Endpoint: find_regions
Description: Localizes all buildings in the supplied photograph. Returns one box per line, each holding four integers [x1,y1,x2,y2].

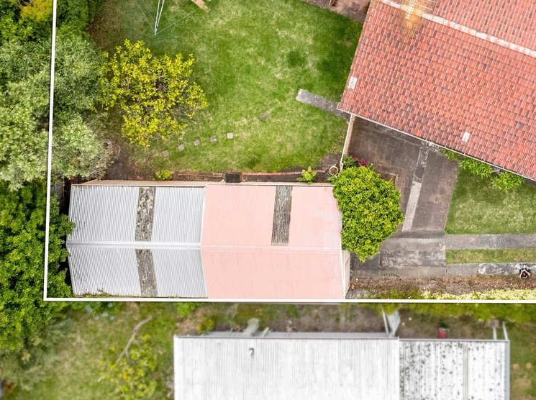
[171,319,509,400]
[63,180,352,300]
[337,0,536,182]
